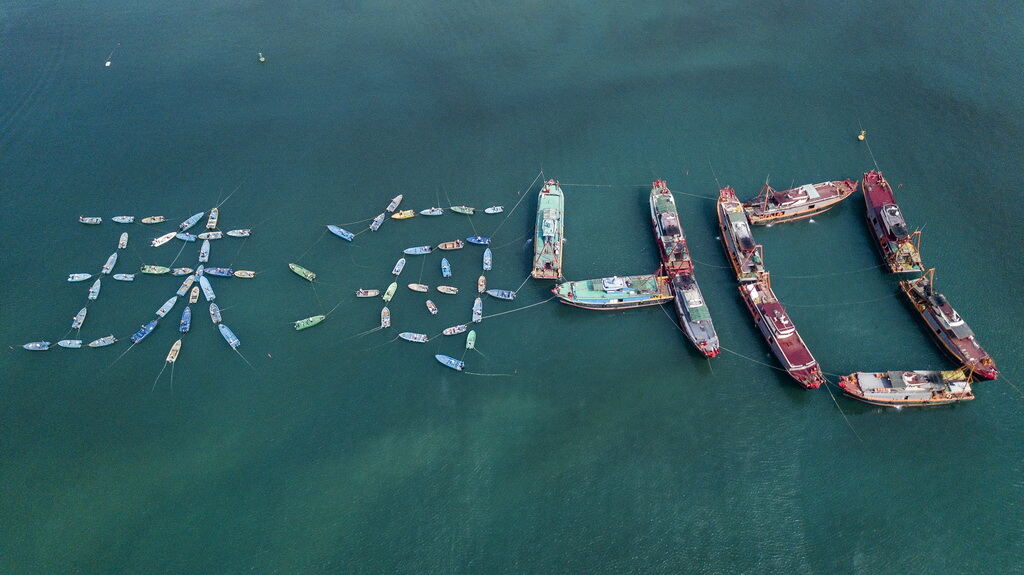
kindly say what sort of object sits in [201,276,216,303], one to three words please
boat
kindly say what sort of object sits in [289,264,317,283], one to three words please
boat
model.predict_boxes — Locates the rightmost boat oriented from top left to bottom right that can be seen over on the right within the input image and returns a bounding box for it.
[900,269,1001,379]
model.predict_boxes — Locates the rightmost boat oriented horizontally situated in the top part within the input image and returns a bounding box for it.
[745,178,857,226]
